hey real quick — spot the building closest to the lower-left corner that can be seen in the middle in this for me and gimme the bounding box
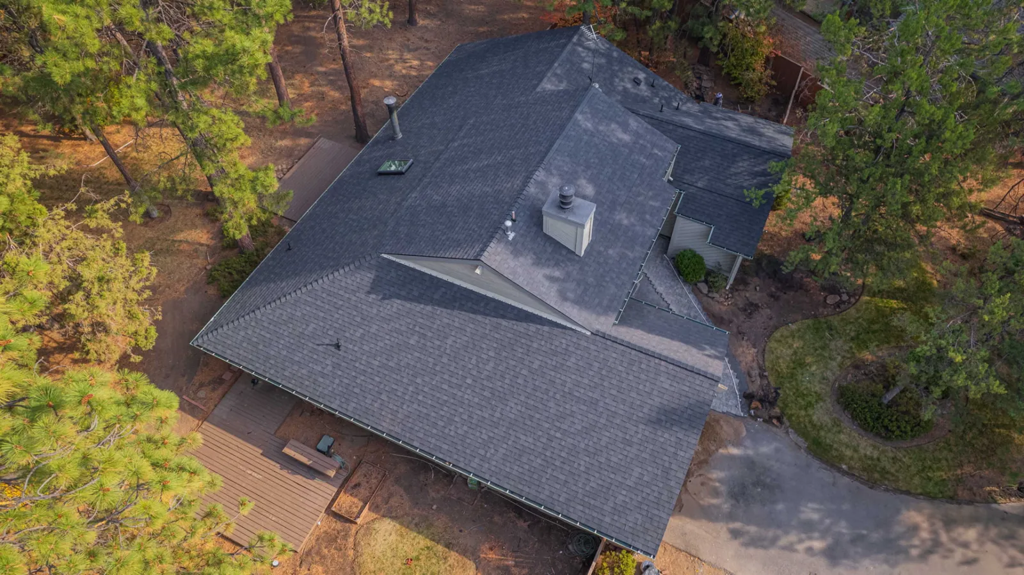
[188,21,796,563]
